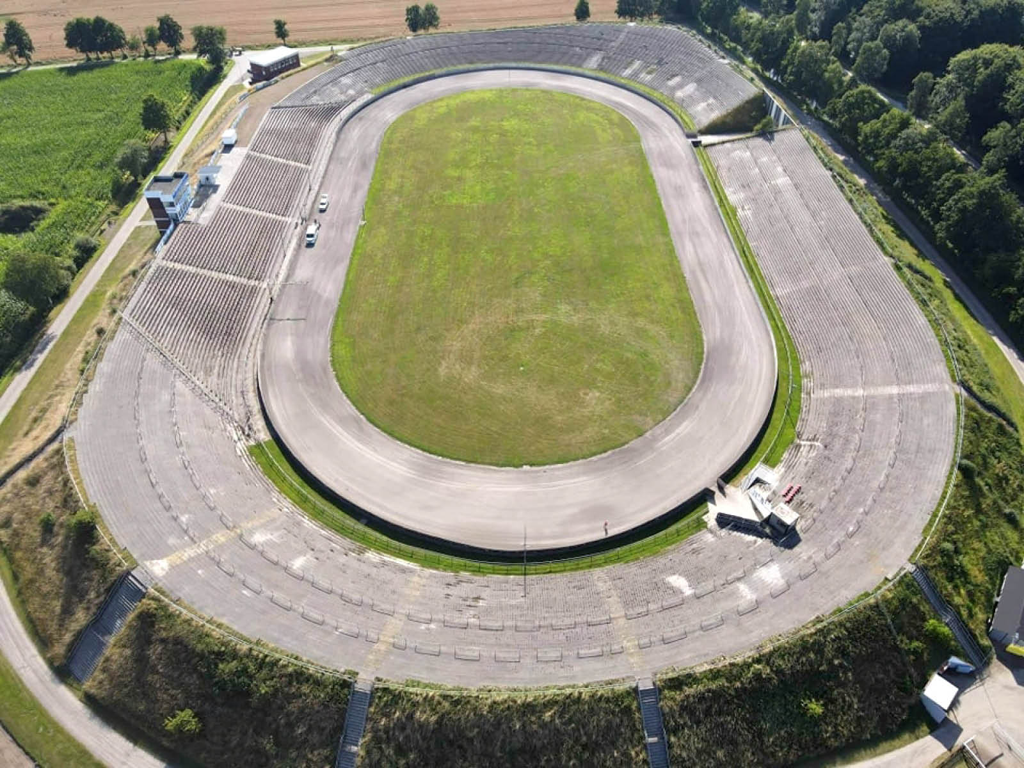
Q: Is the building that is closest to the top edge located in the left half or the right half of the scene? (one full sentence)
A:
You can find the building that is closest to the top edge on the left side of the picture.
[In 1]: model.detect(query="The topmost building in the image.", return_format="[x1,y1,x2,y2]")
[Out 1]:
[243,48,301,81]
